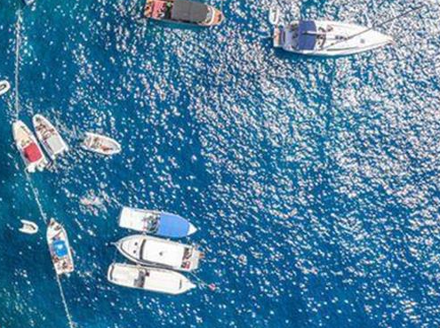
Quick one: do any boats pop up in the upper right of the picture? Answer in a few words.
Yes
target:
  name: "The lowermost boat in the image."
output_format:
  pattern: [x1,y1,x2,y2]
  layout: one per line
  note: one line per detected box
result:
[103,262,197,299]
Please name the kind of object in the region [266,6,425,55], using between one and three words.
boat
